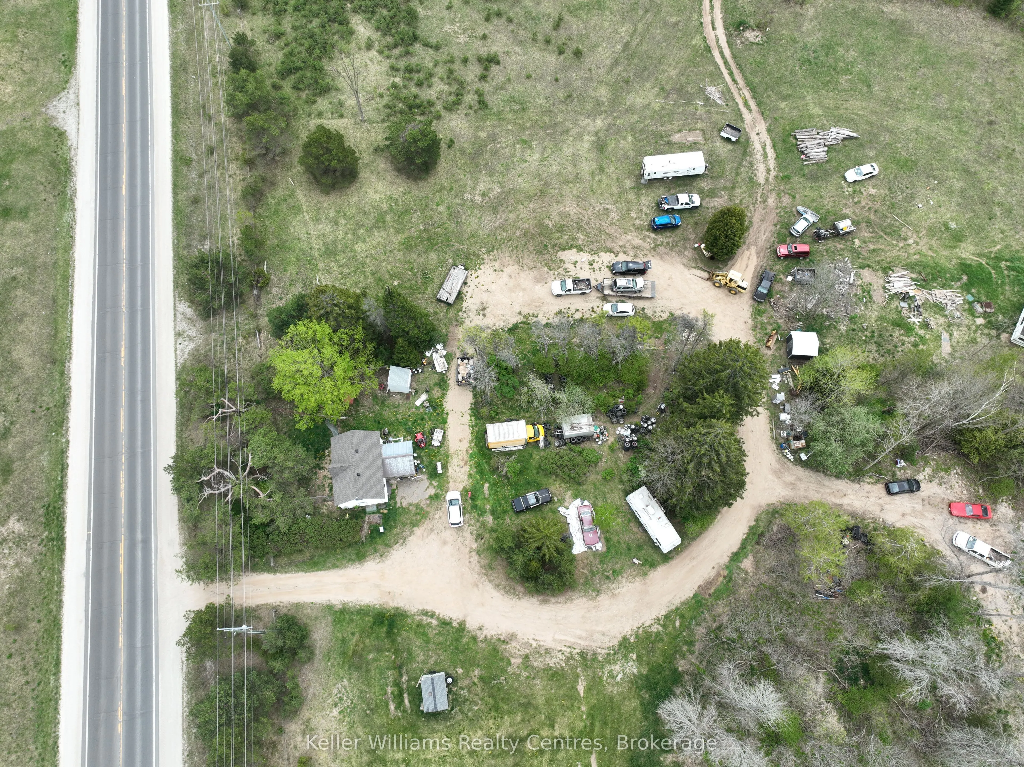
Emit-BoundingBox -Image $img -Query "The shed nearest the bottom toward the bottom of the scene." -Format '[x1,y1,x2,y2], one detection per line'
[421,673,449,713]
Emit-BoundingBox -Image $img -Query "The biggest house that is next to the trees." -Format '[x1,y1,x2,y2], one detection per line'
[327,429,416,509]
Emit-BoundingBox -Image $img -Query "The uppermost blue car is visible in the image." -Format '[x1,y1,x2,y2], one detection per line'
[649,213,682,231]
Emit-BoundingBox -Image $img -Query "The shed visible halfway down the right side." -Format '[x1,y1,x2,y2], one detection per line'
[785,331,819,361]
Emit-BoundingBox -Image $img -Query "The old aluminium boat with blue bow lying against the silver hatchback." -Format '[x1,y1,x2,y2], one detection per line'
[797,207,819,224]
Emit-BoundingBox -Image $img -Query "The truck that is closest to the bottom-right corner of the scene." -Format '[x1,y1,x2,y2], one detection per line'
[951,532,1010,571]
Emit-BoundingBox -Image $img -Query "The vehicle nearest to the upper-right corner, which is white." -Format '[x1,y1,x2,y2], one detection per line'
[841,163,881,184]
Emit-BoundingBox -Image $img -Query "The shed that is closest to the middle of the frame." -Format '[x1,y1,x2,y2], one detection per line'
[387,366,413,393]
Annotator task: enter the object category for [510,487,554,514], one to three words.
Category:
car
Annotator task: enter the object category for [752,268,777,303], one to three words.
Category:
truck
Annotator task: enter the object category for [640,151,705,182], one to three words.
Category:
trailer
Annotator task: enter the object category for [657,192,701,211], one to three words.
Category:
vehicle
